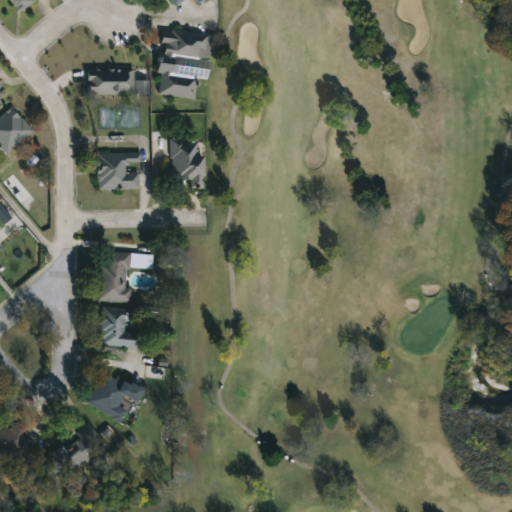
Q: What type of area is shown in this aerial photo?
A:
golf course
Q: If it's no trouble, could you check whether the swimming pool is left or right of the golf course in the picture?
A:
left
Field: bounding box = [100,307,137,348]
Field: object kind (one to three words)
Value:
house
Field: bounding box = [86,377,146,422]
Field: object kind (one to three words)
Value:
house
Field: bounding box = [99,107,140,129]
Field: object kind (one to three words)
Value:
sports court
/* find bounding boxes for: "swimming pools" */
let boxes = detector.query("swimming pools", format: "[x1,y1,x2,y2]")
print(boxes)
[128,270,158,290]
